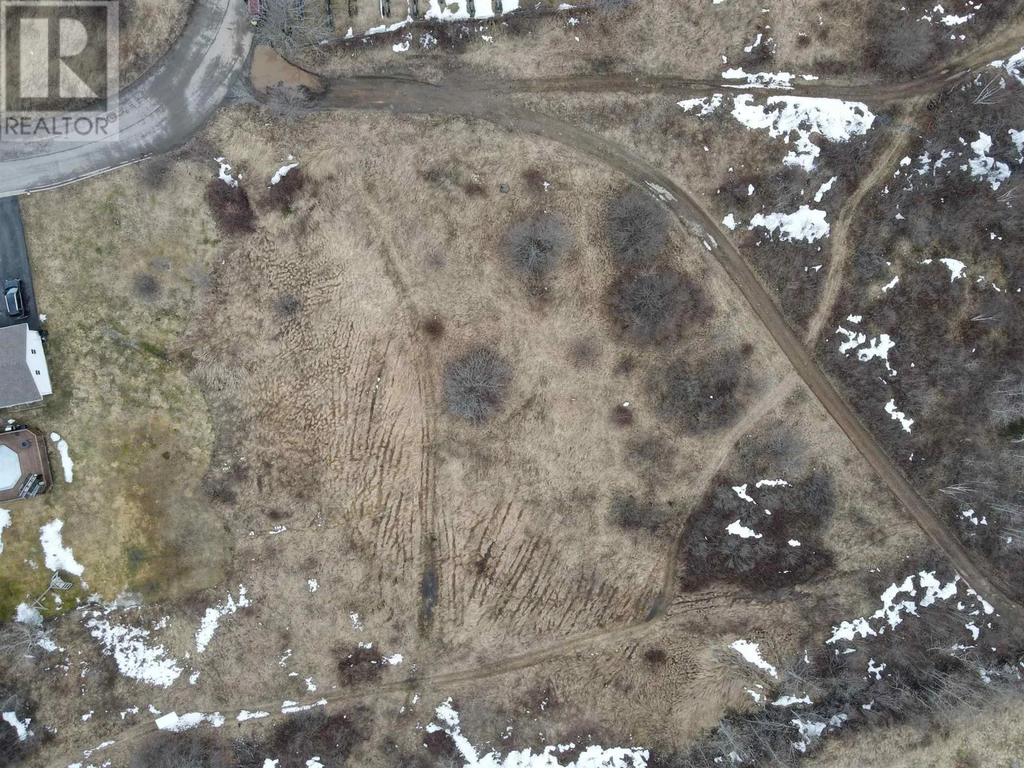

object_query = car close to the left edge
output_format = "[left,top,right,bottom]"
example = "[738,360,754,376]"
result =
[2,279,28,320]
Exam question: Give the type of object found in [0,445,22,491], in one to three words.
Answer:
swimming pool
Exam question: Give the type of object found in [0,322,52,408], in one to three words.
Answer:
house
